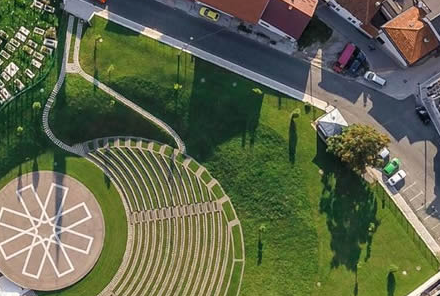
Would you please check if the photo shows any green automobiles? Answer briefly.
Yes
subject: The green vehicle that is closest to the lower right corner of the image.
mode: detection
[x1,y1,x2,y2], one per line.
[379,156,401,176]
